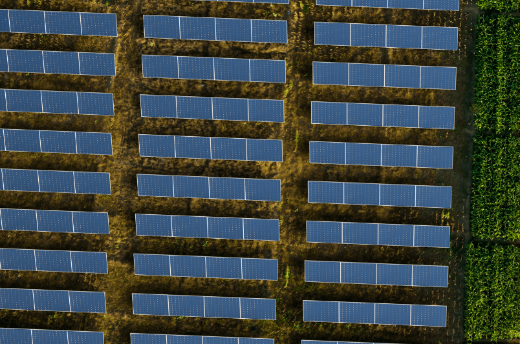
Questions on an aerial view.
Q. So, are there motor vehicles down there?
No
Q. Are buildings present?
No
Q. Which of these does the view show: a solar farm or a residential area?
solar farm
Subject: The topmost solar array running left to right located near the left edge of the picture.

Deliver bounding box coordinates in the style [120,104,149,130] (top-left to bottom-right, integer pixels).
[0,9,118,37]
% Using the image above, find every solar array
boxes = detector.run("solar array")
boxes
[143,15,288,44]
[317,0,460,11]
[134,254,279,281]
[142,55,287,84]
[315,22,458,51]
[310,142,453,169]
[139,135,283,162]
[0,9,118,37]
[135,215,280,242]
[312,102,455,130]
[307,222,450,249]
[305,261,449,289]
[0,169,112,196]
[0,329,104,344]
[132,295,277,322]
[0,249,108,274]
[130,334,275,344]
[309,182,452,210]
[137,175,282,203]
[0,289,107,314]
[0,209,110,235]
[313,63,457,91]
[0,90,115,116]
[304,302,447,328]
[140,95,285,123]
[0,49,116,77]
[0,129,113,155]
